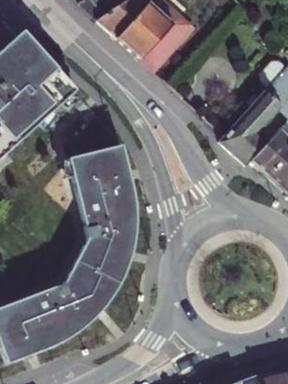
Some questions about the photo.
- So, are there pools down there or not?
No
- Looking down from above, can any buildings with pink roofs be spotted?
Yes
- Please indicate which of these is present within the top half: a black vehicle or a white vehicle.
white vehicle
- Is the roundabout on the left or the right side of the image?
right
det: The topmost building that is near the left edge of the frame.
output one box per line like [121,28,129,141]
[0,29,78,138]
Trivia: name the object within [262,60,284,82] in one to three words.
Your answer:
shed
